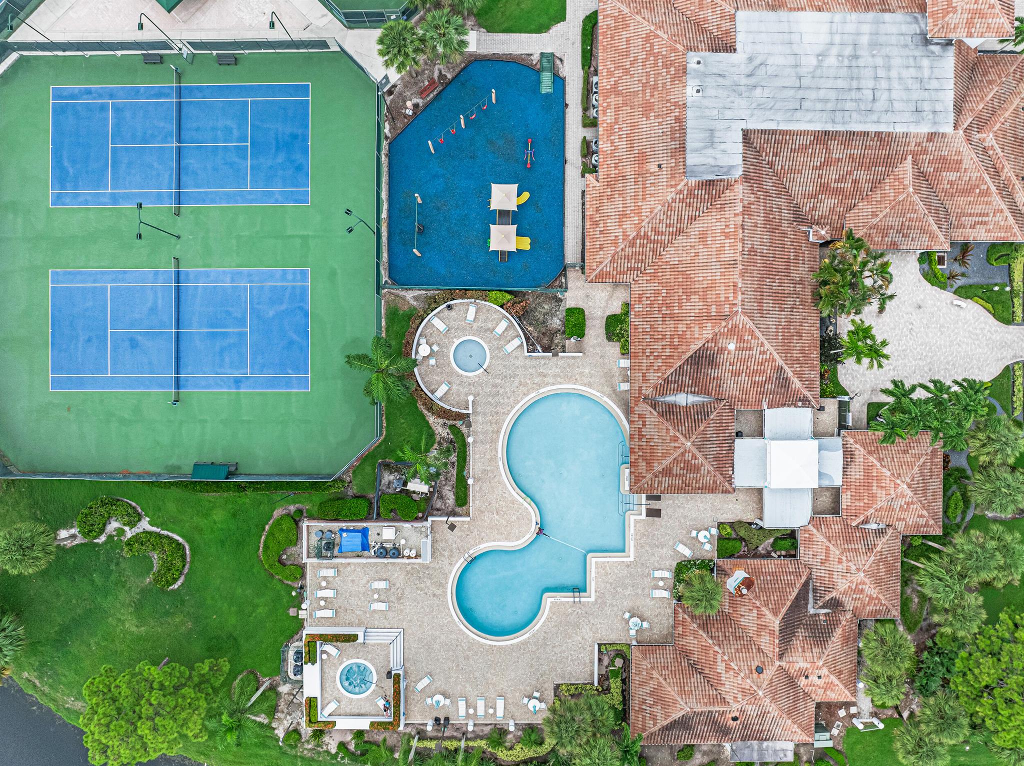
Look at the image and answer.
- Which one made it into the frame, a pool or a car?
pool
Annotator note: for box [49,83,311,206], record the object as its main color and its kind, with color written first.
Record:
blue tennis court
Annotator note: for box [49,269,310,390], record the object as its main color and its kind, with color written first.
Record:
blue tennis court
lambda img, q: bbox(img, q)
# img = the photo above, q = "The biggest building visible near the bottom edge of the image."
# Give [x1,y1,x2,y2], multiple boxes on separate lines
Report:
[630,515,903,746]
